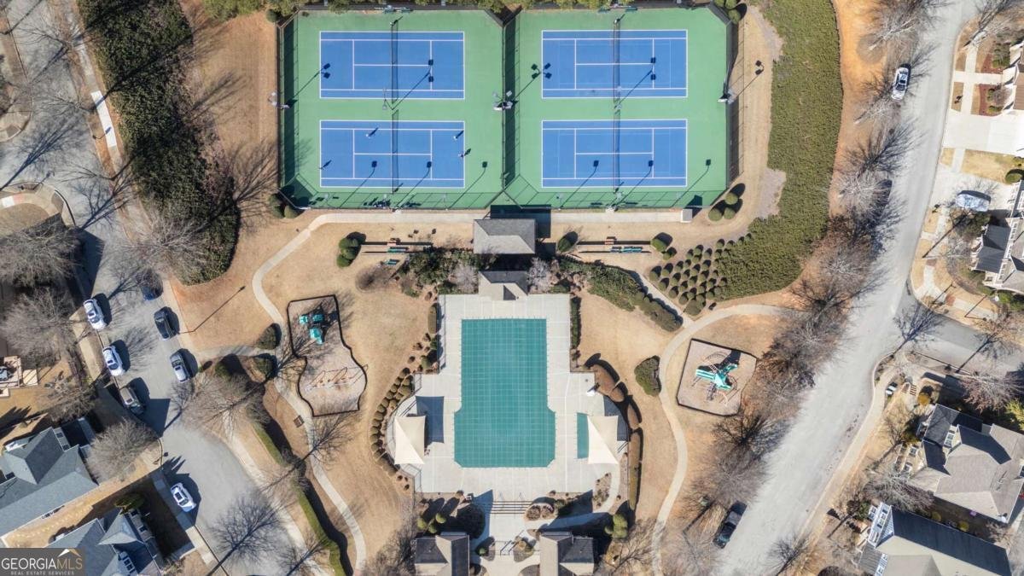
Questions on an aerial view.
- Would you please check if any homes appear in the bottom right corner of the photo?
Yes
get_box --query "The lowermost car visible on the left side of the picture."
[171,482,193,513]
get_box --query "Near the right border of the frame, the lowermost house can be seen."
[850,497,1018,576]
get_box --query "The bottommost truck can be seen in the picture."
[716,507,744,547]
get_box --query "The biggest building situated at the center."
[473,218,536,255]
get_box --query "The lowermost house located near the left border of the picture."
[38,505,168,576]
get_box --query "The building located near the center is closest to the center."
[479,271,528,301]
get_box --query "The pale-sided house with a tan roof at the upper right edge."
[990,42,1024,117]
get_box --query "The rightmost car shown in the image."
[955,192,991,209]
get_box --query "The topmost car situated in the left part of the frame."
[141,270,160,300]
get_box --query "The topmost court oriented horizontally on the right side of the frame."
[504,7,727,109]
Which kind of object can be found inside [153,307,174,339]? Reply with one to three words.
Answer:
car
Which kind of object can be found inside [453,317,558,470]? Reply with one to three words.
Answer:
swimming pool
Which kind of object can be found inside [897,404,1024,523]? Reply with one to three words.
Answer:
house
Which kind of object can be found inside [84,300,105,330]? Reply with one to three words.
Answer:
car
